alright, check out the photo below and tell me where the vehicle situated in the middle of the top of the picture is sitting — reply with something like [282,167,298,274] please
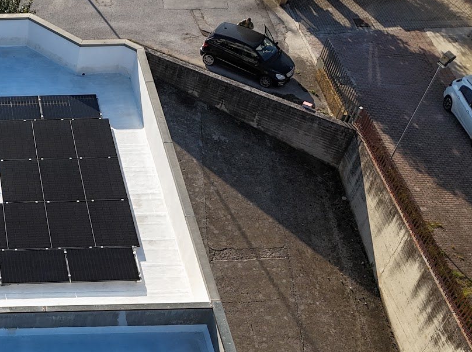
[197,20,297,89]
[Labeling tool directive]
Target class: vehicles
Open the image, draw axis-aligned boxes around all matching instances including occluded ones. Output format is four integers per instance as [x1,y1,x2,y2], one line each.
[445,80,472,137]
[197,20,297,89]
